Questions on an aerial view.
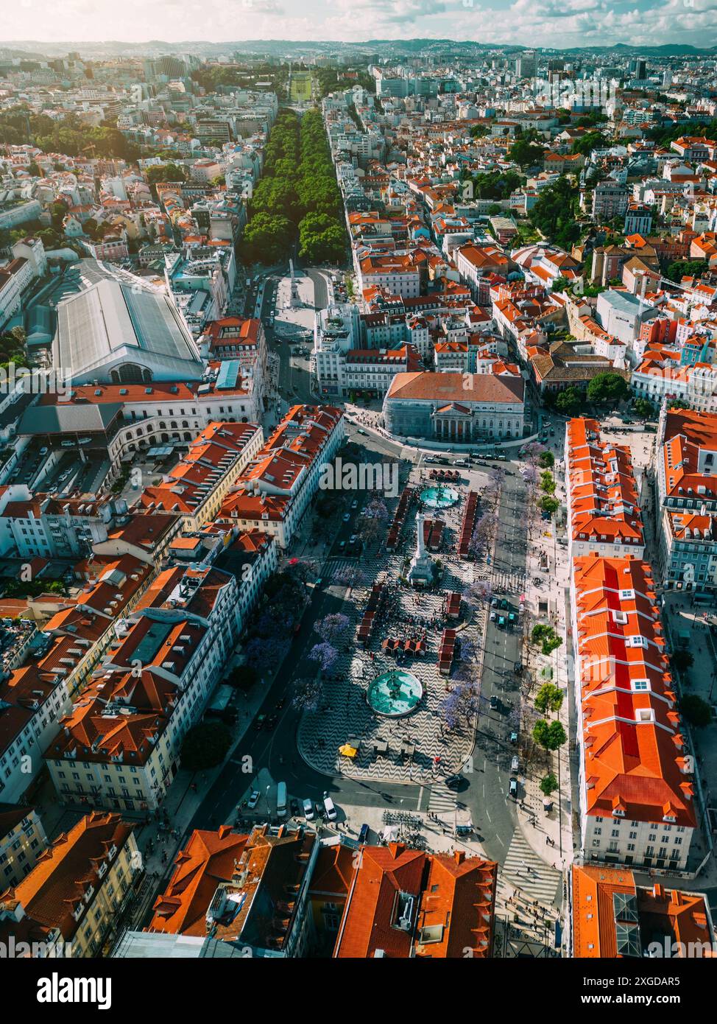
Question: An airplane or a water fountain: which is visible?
water fountain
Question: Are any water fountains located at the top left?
No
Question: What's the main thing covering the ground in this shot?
buildings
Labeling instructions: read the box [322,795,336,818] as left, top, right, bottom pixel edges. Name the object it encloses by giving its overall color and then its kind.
white vehicle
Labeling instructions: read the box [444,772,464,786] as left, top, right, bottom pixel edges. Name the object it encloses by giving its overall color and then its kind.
black car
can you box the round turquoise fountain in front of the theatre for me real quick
[419,481,458,508]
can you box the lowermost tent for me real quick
[377,821,401,847]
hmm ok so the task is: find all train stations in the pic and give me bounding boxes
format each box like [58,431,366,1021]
[60,268,201,387]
